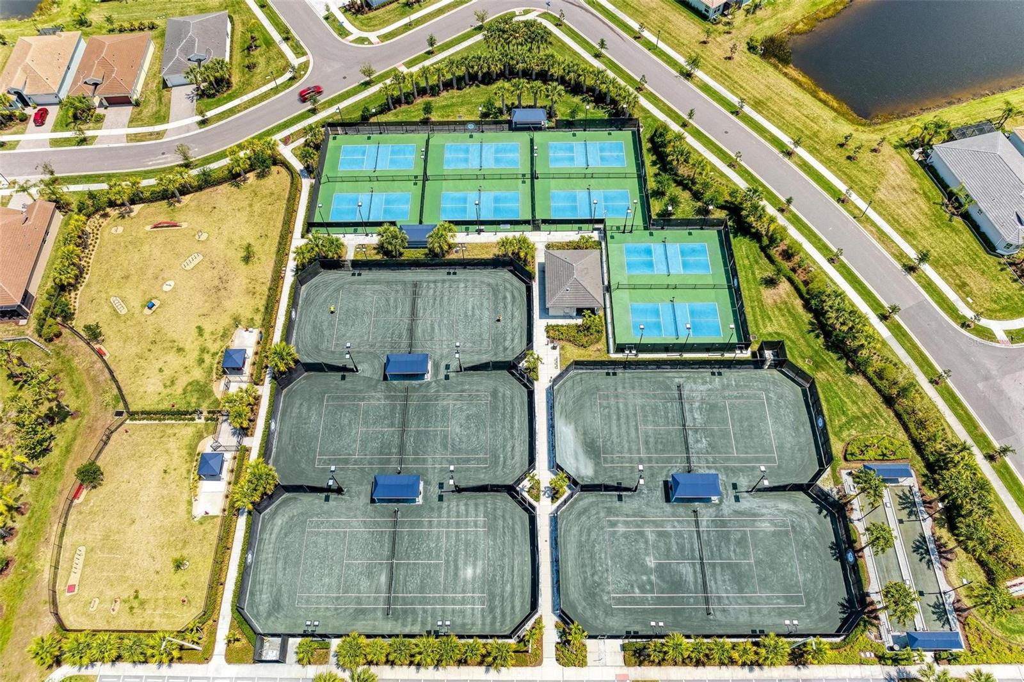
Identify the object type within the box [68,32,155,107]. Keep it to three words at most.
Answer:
house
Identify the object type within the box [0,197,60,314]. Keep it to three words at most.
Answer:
house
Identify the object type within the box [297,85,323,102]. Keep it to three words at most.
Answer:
car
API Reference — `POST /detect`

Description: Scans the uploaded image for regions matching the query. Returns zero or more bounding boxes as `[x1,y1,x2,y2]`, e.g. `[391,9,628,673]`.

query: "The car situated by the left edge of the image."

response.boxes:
[29,108,47,127]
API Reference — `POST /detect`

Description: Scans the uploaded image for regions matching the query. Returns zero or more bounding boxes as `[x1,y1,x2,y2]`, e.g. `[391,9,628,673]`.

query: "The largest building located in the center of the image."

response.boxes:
[544,250,604,315]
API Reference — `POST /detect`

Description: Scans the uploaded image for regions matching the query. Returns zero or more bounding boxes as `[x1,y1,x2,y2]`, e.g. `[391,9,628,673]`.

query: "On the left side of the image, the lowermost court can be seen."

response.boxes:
[244,491,536,632]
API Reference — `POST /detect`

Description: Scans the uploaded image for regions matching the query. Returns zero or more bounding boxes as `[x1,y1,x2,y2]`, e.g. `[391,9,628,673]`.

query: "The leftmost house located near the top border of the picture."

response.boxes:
[0,31,86,114]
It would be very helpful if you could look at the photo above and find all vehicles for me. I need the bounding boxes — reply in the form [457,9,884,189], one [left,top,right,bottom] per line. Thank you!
[29,108,47,127]
[297,85,323,102]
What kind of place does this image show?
sports ground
